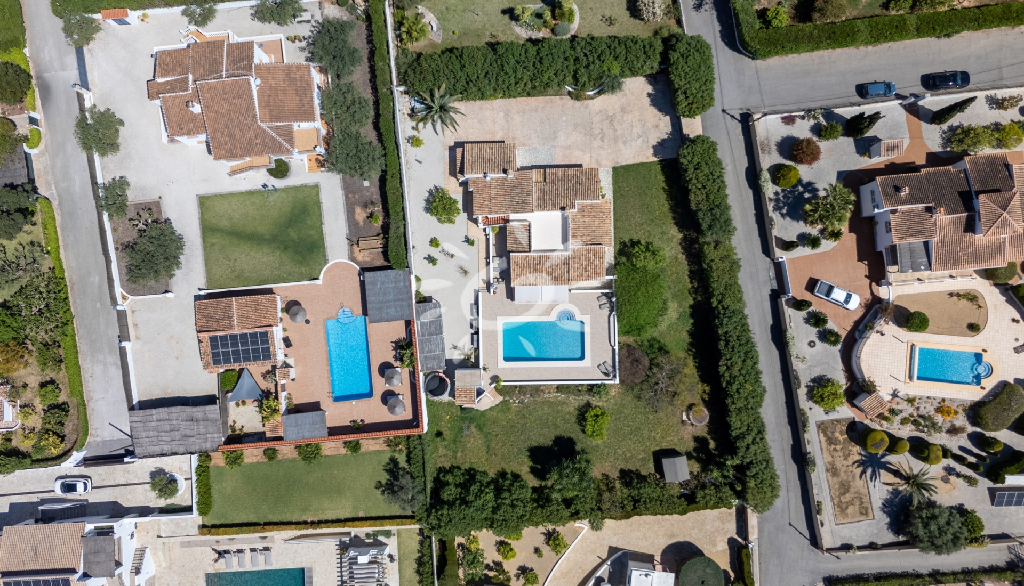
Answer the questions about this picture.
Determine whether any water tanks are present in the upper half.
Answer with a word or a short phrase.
No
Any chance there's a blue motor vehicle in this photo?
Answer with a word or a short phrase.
Yes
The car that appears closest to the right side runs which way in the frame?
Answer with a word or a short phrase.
from left to right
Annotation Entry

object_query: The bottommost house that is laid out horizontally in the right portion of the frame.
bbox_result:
[579,546,674,586]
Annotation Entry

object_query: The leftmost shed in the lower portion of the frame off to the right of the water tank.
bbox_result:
[455,367,482,405]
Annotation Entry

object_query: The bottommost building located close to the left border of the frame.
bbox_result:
[0,512,160,586]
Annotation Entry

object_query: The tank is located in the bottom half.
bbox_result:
[425,371,451,397]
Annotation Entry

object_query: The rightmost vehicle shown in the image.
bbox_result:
[925,69,967,90]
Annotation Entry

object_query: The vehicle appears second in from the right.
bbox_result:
[859,79,893,99]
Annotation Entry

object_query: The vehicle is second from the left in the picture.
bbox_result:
[811,280,858,308]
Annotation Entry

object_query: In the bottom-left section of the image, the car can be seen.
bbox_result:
[56,476,93,495]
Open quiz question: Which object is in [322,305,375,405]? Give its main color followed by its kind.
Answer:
blue swimming pool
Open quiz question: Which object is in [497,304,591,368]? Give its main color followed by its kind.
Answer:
blue swimming pool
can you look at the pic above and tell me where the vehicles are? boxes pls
[811,280,858,308]
[925,69,967,90]
[859,79,893,99]
[56,476,93,495]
